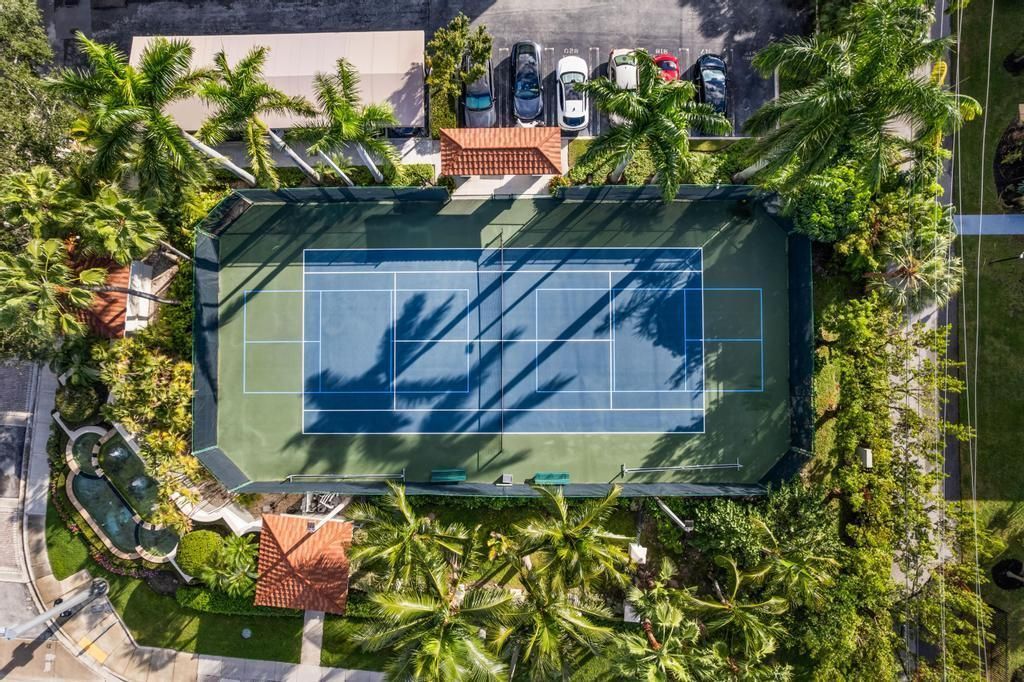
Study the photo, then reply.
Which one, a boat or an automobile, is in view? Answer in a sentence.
It is an automobile that can be seen here.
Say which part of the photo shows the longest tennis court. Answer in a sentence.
The longest tennis court is located in the center region of the scene.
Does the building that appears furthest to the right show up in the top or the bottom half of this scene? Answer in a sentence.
The building that appears furthest to the right is in the top half of the image.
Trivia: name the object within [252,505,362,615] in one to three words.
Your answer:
building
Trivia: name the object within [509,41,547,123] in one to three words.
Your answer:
car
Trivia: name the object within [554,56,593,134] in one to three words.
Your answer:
car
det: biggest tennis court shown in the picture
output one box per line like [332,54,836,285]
[217,202,792,484]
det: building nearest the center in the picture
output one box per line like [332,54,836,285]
[439,126,563,184]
